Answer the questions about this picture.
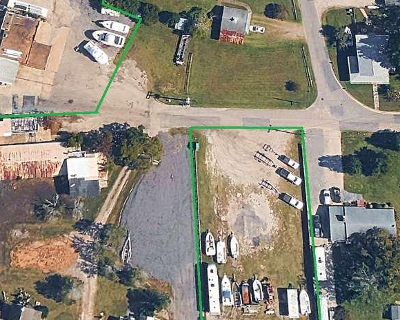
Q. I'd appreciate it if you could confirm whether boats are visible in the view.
Yes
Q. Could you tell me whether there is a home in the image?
Yes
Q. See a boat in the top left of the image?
Yes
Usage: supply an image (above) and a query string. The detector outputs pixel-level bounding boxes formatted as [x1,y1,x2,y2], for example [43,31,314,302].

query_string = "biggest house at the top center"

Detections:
[218,7,252,44]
